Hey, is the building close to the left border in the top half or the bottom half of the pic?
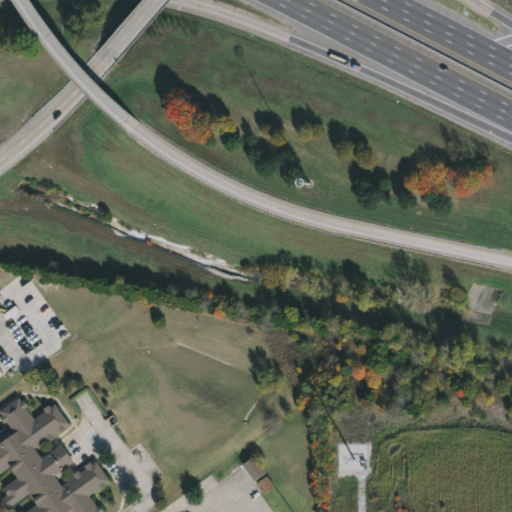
bottom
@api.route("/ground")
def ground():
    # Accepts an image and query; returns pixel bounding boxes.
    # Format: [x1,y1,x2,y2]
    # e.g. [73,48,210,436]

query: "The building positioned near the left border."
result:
[0,393,112,512]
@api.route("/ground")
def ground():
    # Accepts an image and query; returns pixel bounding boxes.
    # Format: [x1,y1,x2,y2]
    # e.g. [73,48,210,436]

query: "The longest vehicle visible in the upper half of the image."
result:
[328,52,362,70]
